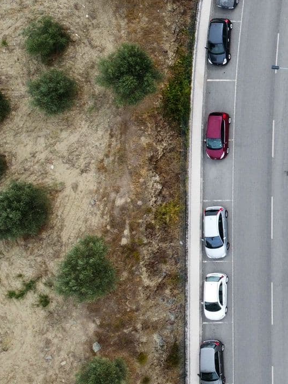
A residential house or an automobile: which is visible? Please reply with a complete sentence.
The image shows an automobile.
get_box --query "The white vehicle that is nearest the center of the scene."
[201,207,231,260]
